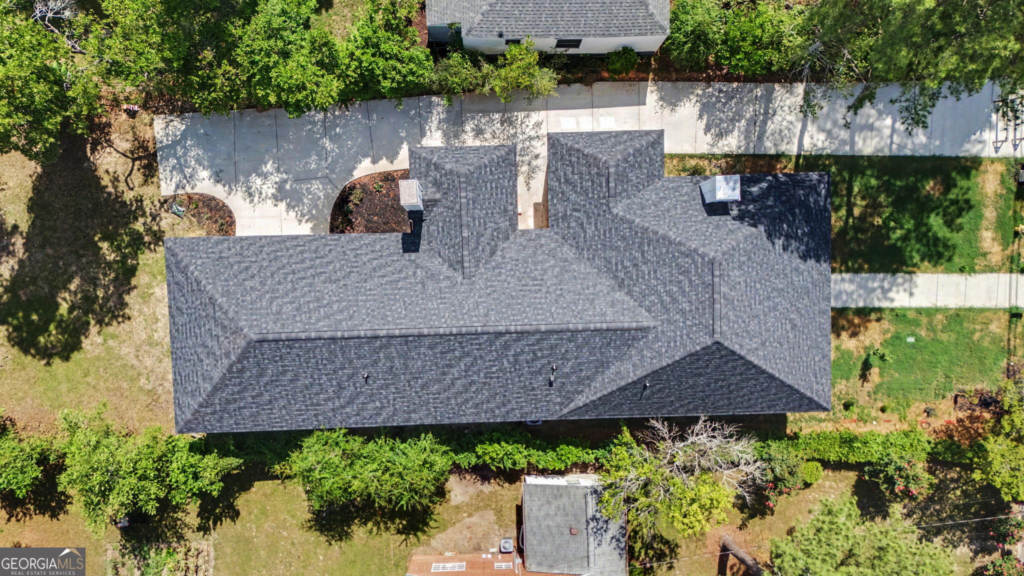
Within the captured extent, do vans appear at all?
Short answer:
No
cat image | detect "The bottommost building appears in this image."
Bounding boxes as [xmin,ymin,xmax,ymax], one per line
[399,475,639,576]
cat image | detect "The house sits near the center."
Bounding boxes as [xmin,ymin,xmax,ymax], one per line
[163,128,831,435]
